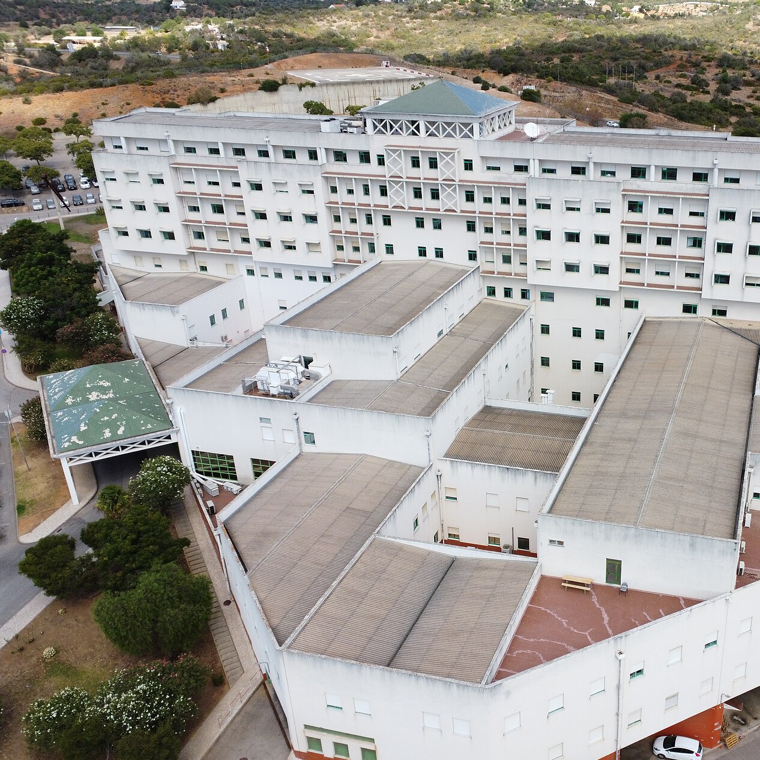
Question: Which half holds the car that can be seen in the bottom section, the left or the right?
right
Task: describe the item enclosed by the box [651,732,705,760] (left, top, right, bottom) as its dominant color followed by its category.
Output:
white car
